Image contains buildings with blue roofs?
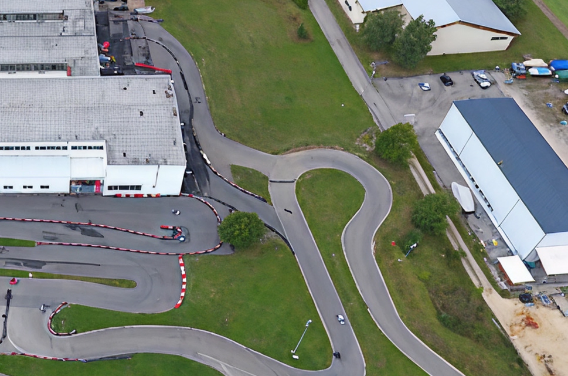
Yes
